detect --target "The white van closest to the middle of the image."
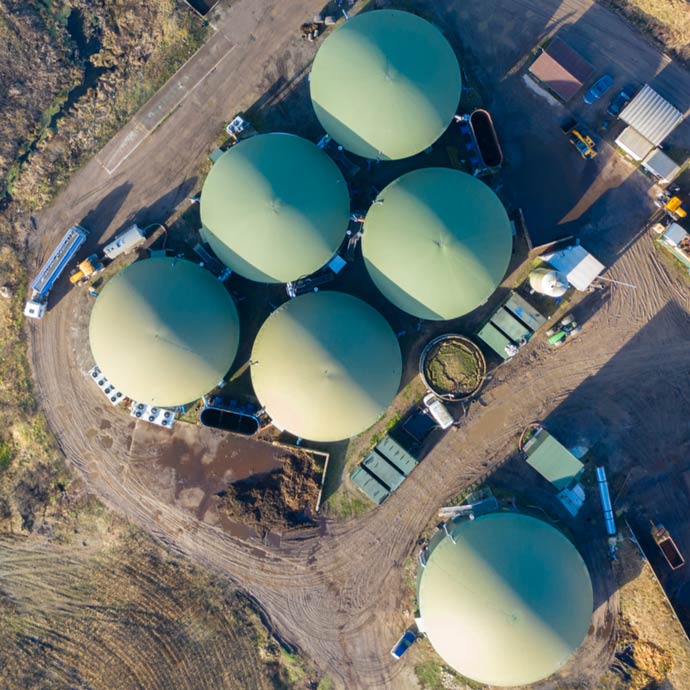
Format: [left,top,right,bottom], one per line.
[420,393,456,431]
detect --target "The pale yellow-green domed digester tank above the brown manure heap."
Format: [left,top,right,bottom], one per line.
[246,289,402,442]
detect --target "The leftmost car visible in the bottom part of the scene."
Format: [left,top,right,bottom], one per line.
[389,627,416,658]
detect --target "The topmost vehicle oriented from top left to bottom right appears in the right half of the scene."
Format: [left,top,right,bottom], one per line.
[557,119,600,164]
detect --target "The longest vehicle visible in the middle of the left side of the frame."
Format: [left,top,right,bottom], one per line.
[24,224,91,319]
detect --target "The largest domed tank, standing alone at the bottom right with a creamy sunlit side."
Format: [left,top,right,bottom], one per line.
[413,505,594,688]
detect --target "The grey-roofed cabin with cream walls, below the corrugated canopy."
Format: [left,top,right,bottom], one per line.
[644,148,680,181]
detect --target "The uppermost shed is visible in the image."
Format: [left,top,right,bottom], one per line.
[526,36,596,103]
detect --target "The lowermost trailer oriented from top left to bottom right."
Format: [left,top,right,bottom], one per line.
[651,518,685,569]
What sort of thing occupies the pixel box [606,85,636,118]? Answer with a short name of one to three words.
car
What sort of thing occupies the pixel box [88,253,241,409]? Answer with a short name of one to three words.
storage tank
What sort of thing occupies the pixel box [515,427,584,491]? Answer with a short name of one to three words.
shed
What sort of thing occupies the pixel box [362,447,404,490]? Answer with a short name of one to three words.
shipping container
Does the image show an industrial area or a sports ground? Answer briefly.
industrial area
